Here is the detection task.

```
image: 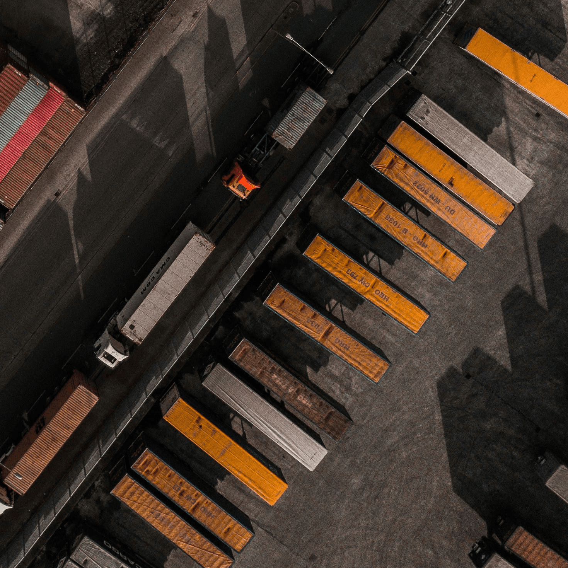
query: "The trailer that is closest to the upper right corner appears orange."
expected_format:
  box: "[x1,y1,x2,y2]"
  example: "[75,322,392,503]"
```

[451,23,568,125]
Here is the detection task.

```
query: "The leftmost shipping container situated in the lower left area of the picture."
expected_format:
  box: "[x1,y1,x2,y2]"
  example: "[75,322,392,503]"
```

[2,368,97,492]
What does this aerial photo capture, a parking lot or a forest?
parking lot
